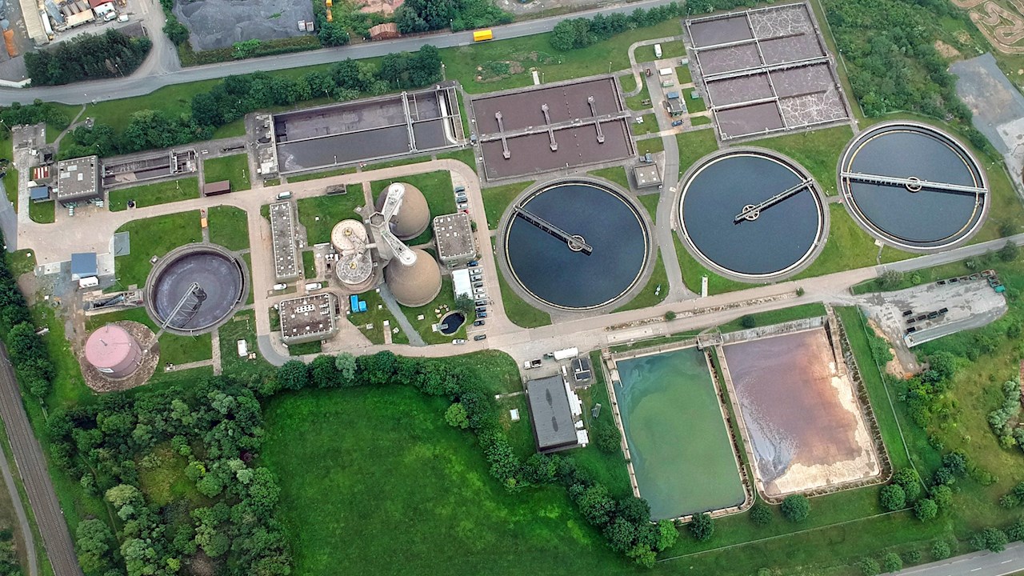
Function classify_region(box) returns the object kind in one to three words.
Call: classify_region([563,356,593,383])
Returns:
shed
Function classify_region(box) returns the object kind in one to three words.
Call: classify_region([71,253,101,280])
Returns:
building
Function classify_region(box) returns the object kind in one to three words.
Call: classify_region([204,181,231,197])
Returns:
shed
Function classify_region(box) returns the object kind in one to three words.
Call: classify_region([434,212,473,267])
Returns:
building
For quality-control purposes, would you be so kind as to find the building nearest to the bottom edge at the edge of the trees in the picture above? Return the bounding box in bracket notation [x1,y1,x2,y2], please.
[524,374,580,456]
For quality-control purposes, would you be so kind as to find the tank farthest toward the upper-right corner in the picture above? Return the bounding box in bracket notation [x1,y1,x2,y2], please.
[833,118,993,256]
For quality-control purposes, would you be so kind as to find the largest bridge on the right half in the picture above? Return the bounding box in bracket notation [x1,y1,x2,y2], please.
[839,170,990,195]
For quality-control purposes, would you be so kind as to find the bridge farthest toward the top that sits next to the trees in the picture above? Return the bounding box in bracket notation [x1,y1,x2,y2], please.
[400,89,425,156]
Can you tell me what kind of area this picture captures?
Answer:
industrial area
